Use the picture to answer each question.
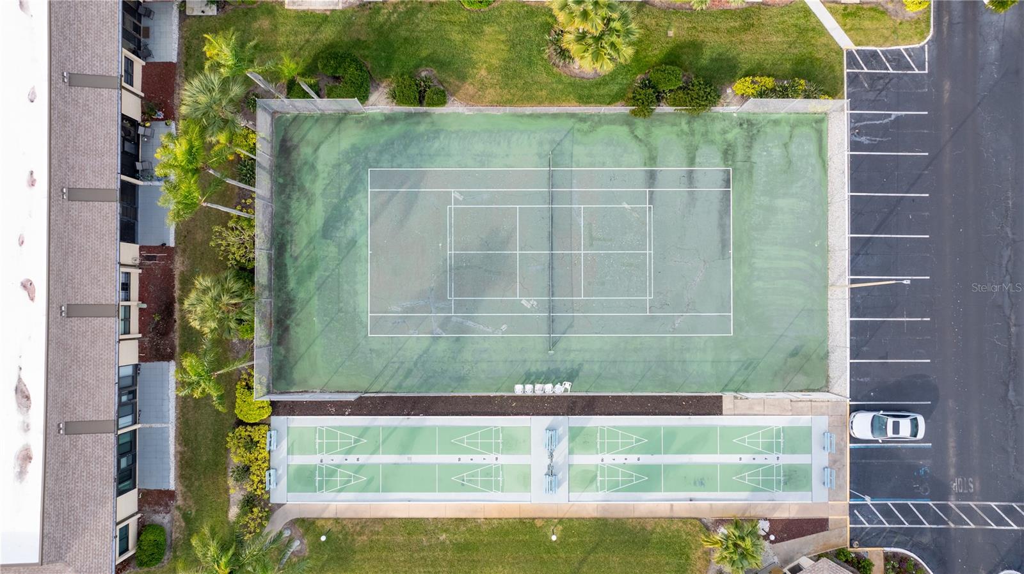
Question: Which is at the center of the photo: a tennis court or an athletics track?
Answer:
tennis court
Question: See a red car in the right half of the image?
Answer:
No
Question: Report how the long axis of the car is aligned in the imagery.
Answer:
horizontally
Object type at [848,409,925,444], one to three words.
car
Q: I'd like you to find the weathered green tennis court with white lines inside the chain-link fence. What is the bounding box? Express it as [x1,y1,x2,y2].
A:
[272,113,828,393]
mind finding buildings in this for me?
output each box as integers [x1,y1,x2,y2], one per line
[805,559,851,574]
[0,0,145,574]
